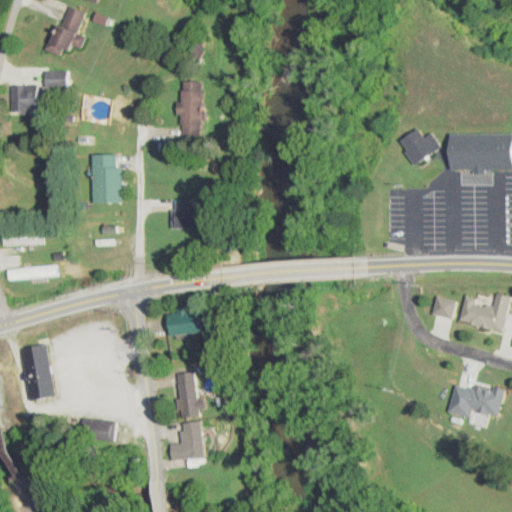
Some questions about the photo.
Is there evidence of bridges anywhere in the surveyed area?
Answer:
Yes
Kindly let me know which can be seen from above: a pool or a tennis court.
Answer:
pool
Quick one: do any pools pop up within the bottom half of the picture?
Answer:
No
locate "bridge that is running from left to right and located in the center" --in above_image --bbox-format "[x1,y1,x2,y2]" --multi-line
[220,256,365,287]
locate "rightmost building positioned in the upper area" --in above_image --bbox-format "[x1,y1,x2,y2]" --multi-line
[447,133,512,176]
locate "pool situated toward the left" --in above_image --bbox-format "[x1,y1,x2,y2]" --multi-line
[82,95,112,124]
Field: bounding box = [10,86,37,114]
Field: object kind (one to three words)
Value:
house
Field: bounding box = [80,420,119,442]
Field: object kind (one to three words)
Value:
building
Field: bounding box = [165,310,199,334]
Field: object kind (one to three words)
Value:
building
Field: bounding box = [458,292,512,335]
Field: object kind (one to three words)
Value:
house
